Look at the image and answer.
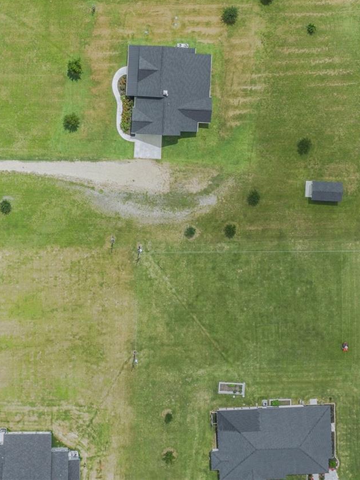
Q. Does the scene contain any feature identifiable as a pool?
No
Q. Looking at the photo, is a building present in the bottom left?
Yes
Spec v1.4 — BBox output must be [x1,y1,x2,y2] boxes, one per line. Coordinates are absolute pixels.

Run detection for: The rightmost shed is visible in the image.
[304,180,343,201]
